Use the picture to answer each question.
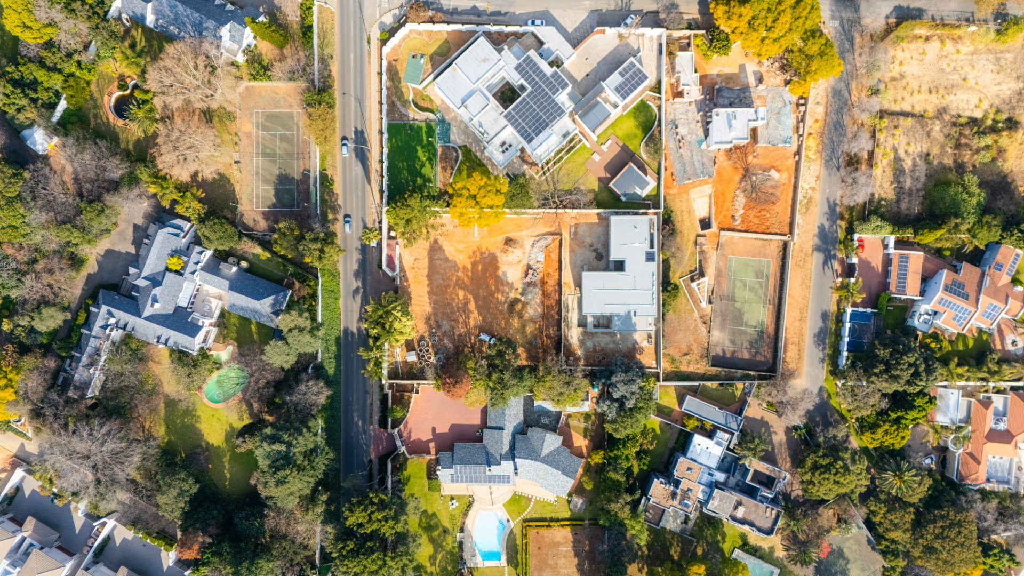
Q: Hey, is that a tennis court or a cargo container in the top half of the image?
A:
tennis court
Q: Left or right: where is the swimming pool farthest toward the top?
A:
left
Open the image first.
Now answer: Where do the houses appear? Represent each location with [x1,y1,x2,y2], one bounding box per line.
[434,27,582,171]
[108,0,271,68]
[705,107,766,152]
[642,426,789,538]
[437,393,589,499]
[0,509,83,576]
[19,124,63,157]
[877,236,1024,333]
[579,215,657,332]
[935,390,1024,488]
[58,215,293,402]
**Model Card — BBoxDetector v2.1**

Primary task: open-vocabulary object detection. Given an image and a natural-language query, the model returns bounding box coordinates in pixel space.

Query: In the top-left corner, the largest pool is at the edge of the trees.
[108,79,144,123]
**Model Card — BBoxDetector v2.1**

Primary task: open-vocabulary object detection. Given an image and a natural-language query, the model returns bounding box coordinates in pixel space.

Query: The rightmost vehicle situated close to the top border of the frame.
[622,13,638,26]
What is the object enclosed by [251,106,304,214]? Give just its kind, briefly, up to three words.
tennis court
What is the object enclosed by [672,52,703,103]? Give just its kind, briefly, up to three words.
shed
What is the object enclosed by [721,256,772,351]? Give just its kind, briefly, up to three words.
tennis court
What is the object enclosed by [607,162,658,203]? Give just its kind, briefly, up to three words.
building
